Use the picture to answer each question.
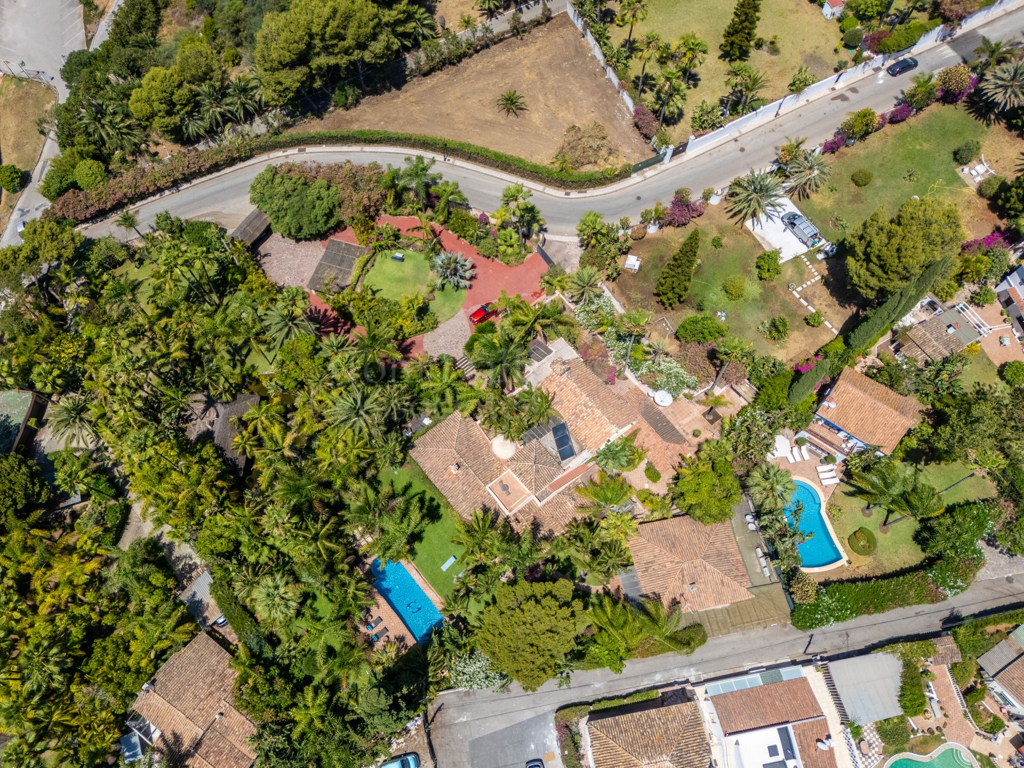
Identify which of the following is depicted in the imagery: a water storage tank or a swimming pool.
swimming pool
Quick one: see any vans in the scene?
Yes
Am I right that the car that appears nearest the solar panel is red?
Yes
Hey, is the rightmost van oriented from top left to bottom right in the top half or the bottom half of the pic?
top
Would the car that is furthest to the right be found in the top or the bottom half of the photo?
top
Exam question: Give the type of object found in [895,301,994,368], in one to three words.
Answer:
house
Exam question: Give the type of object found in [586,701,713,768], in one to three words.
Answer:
house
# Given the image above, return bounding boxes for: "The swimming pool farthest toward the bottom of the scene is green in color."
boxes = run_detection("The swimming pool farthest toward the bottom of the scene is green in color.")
[891,748,974,768]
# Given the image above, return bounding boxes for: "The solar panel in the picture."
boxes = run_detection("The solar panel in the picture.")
[551,422,575,460]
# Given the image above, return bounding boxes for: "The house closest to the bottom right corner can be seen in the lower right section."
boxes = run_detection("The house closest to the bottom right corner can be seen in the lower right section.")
[979,624,1024,714]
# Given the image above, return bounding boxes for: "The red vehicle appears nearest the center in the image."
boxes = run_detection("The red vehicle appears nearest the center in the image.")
[466,300,499,326]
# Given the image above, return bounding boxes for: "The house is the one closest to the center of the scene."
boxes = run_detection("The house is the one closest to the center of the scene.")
[410,336,693,536]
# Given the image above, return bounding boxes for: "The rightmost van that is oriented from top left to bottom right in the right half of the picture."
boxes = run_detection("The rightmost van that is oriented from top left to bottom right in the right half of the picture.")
[784,215,825,251]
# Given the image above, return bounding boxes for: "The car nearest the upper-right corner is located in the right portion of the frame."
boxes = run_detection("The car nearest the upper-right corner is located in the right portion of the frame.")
[886,58,917,78]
